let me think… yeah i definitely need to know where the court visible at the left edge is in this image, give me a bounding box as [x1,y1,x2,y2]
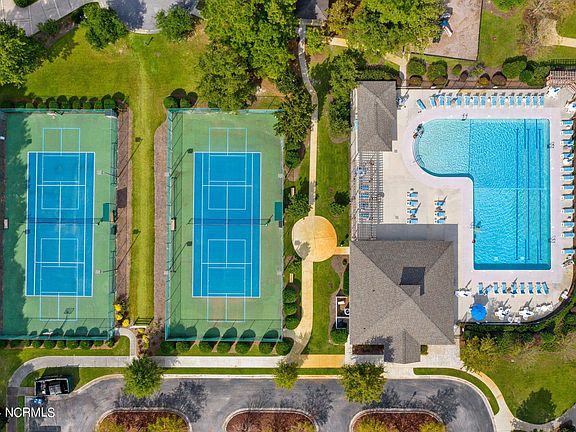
[1,111,119,338]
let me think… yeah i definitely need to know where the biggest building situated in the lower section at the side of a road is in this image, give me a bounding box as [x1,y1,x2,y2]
[350,241,453,364]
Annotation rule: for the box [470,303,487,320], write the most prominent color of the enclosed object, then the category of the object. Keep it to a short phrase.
blue umbrella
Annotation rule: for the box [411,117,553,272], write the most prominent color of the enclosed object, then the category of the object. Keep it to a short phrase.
blue swimming pool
